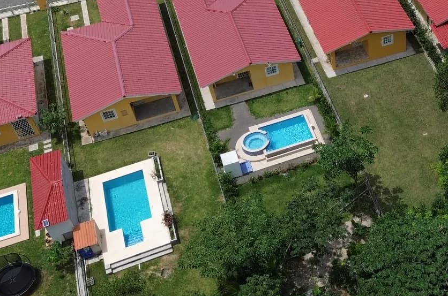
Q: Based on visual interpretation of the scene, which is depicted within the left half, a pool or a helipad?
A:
pool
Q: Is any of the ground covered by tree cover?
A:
Yes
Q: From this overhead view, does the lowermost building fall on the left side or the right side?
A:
left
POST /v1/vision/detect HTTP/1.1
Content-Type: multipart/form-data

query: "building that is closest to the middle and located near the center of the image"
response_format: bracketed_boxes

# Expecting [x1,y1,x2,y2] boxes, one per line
[220,150,242,175]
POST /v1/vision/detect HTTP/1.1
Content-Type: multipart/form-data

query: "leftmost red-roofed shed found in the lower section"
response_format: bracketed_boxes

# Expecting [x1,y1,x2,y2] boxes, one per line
[30,150,76,242]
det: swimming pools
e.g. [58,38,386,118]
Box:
[234,110,328,175]
[0,183,29,249]
[88,160,180,278]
